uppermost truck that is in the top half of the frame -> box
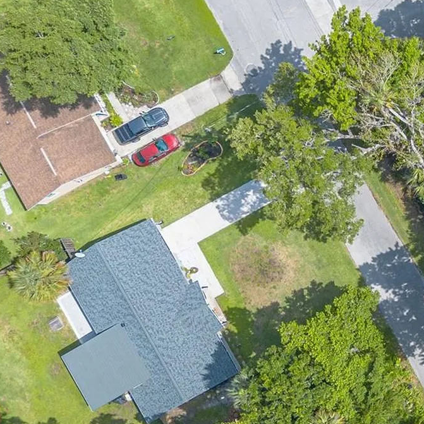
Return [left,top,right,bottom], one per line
[107,102,175,150]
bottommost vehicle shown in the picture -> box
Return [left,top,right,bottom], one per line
[129,131,187,171]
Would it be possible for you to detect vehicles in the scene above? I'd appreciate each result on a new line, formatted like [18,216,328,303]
[129,131,187,171]
[107,102,175,150]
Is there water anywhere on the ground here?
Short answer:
No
